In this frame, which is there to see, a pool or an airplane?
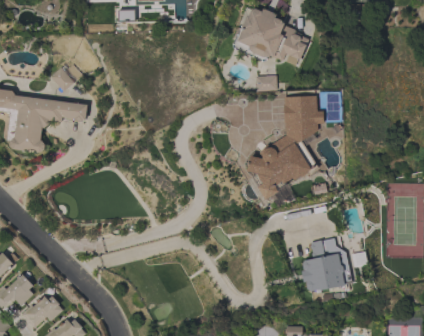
pool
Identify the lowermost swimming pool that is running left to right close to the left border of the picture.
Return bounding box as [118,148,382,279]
[8,52,39,66]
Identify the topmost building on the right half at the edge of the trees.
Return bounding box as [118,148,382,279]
[236,8,312,64]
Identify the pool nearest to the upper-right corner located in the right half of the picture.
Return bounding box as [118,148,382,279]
[316,138,341,167]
